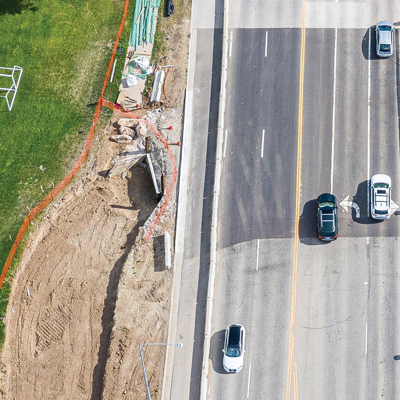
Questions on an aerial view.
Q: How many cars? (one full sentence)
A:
The number of cars here is 4.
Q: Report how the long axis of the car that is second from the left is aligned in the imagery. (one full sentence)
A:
The car that is second from the left is laid out from top to bottom.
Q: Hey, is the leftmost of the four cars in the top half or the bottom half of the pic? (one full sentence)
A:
The bottom half of the photo is where the leftmost of the four cars is.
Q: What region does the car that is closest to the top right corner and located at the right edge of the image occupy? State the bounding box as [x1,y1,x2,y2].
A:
[374,21,396,60]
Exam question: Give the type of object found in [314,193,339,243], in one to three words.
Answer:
car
